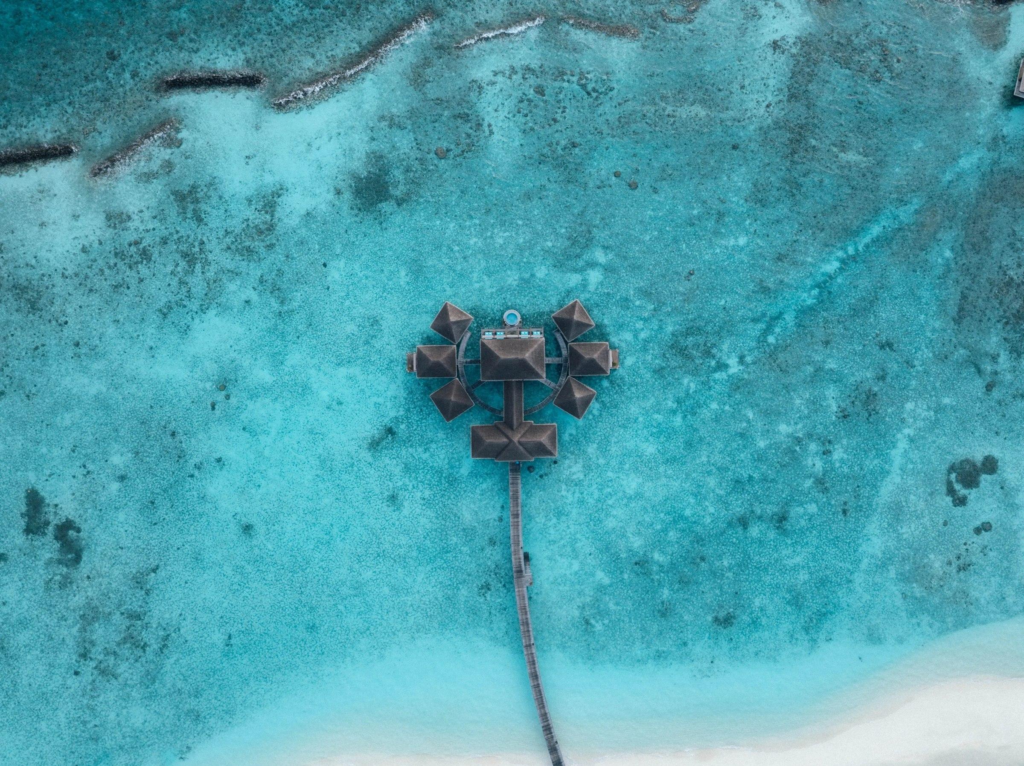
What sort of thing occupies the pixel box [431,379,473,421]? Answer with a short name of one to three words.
shed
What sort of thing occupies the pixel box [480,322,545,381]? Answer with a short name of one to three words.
building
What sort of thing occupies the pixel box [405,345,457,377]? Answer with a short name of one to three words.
shed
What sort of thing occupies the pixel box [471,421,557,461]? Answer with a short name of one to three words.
building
